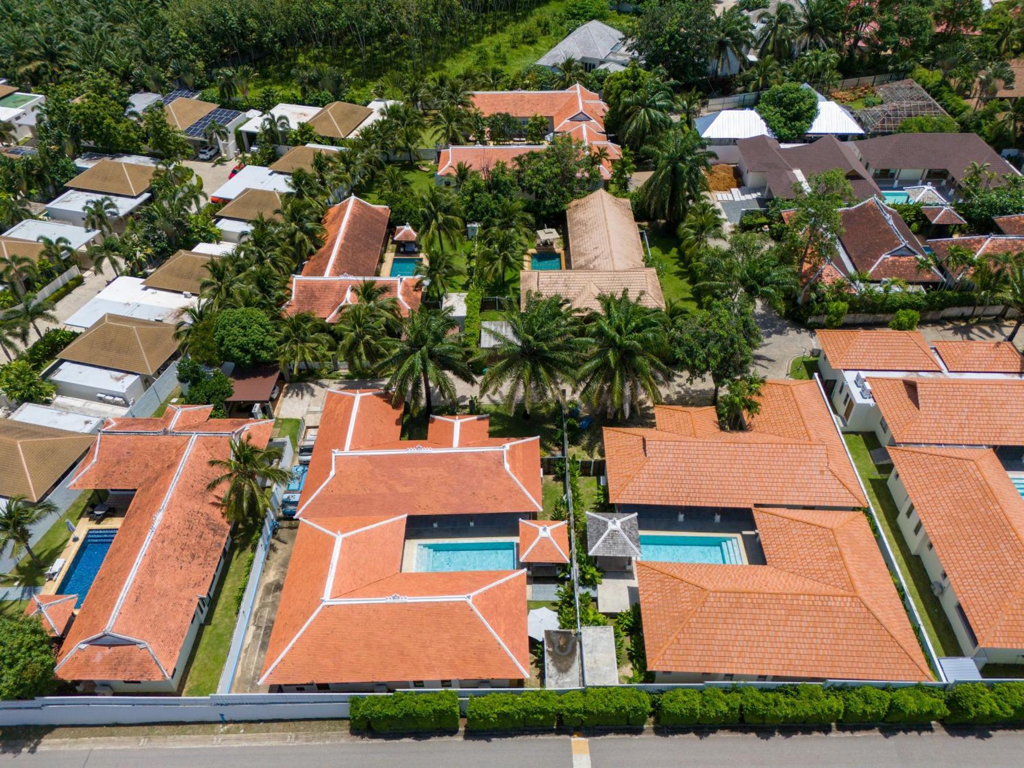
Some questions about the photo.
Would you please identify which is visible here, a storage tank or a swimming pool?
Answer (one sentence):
There is a swimming pool in the scene.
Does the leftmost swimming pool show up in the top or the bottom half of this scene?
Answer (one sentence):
The leftmost swimming pool sits in the bottom half of the picture.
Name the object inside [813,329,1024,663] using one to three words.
house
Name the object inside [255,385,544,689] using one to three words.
house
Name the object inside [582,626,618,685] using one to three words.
shed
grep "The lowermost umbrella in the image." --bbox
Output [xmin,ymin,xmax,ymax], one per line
[527,609,559,640]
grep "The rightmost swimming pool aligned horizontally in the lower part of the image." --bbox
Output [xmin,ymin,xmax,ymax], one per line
[632,530,746,570]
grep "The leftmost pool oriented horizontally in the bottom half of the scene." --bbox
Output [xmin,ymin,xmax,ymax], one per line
[409,538,520,572]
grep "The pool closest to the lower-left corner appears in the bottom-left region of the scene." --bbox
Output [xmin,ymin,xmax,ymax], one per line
[52,526,121,614]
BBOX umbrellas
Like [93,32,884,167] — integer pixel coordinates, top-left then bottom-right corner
[527,609,559,640]
[57,523,79,542]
